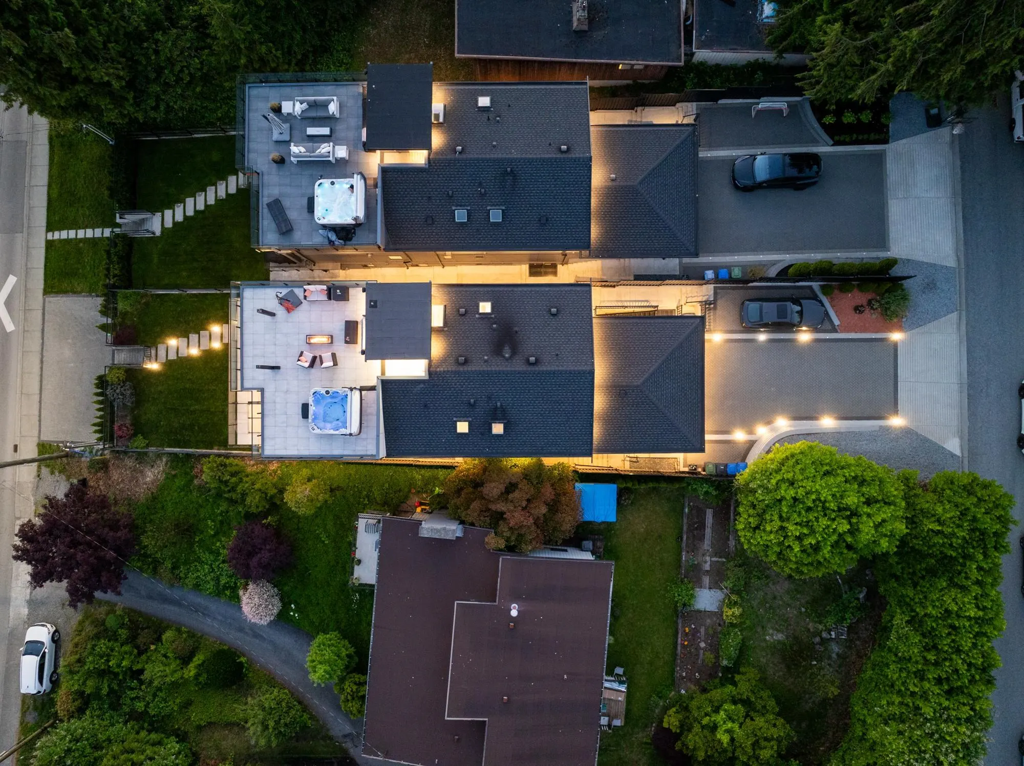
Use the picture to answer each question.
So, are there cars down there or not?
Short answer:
Yes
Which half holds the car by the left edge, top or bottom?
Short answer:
bottom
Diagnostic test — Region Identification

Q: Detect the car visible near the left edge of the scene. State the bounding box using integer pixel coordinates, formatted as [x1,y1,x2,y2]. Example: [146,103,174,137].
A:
[16,623,60,700]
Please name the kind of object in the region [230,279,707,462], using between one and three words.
house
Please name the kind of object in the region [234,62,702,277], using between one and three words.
house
